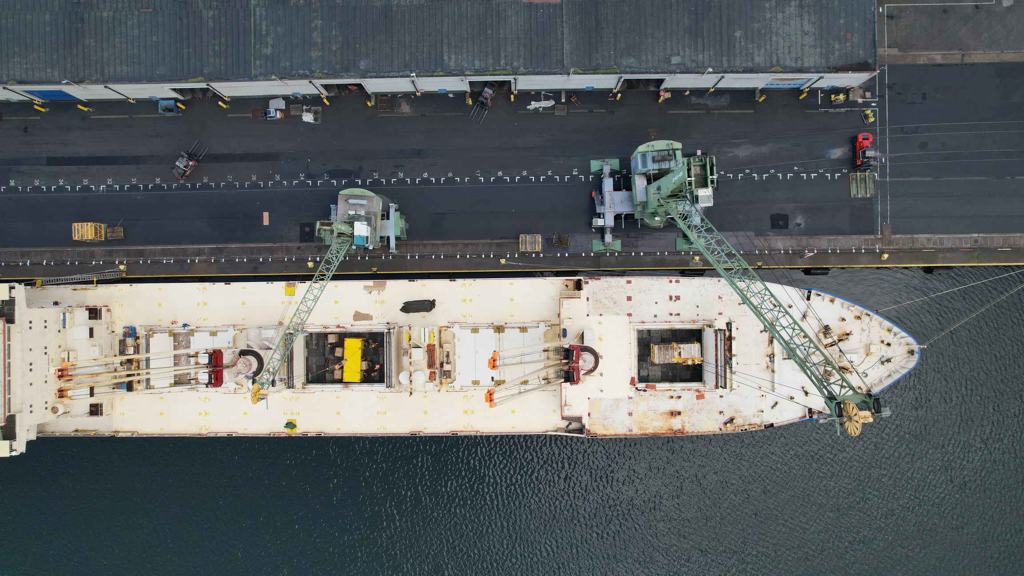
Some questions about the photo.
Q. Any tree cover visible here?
No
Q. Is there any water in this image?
Yes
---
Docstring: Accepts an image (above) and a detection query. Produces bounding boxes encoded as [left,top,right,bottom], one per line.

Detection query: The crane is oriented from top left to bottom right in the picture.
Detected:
[590,141,897,437]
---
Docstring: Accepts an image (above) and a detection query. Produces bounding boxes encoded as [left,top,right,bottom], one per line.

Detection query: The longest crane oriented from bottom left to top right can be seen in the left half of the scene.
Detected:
[244,188,407,409]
